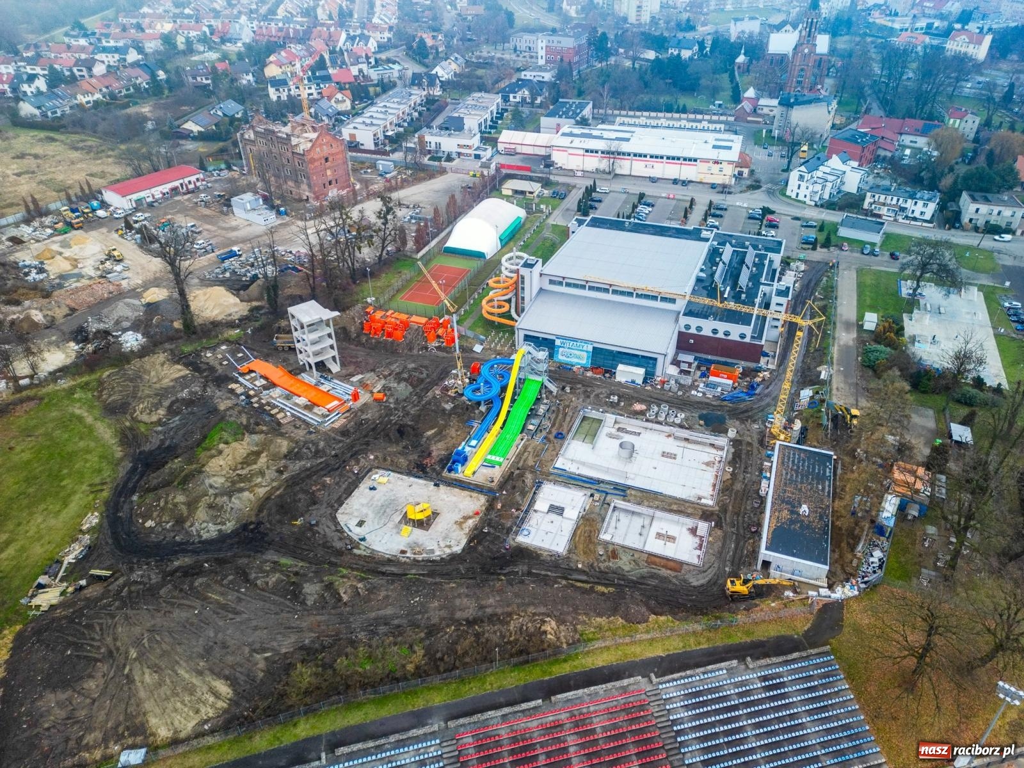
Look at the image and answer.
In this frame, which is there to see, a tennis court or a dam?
tennis court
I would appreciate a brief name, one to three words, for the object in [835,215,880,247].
house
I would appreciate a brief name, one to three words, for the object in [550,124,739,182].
building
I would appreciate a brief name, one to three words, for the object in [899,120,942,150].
barn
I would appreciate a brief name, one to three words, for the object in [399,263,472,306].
tennis court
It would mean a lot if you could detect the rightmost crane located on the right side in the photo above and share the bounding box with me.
[584,275,836,443]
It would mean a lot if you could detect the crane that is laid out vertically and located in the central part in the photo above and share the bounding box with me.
[419,262,473,394]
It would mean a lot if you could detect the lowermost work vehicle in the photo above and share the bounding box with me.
[728,574,790,604]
